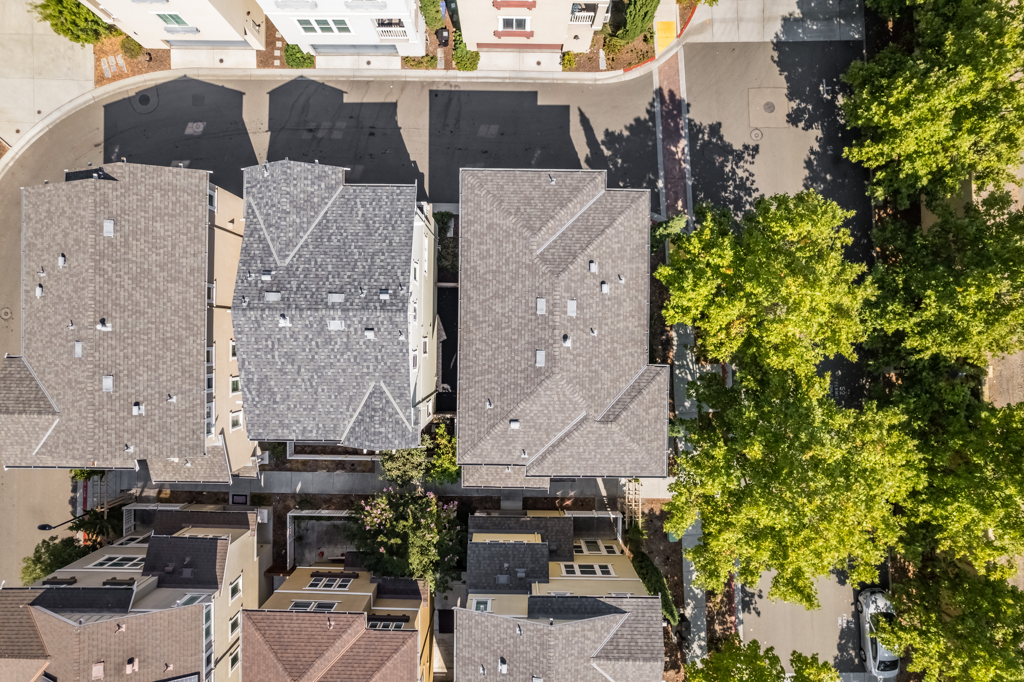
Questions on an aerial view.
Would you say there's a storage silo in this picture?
No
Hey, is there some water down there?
No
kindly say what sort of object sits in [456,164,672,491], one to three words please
house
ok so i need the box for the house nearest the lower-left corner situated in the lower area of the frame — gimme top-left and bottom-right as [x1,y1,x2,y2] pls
[0,507,271,682]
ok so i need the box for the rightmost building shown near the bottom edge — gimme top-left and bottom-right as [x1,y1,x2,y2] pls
[450,511,670,682]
